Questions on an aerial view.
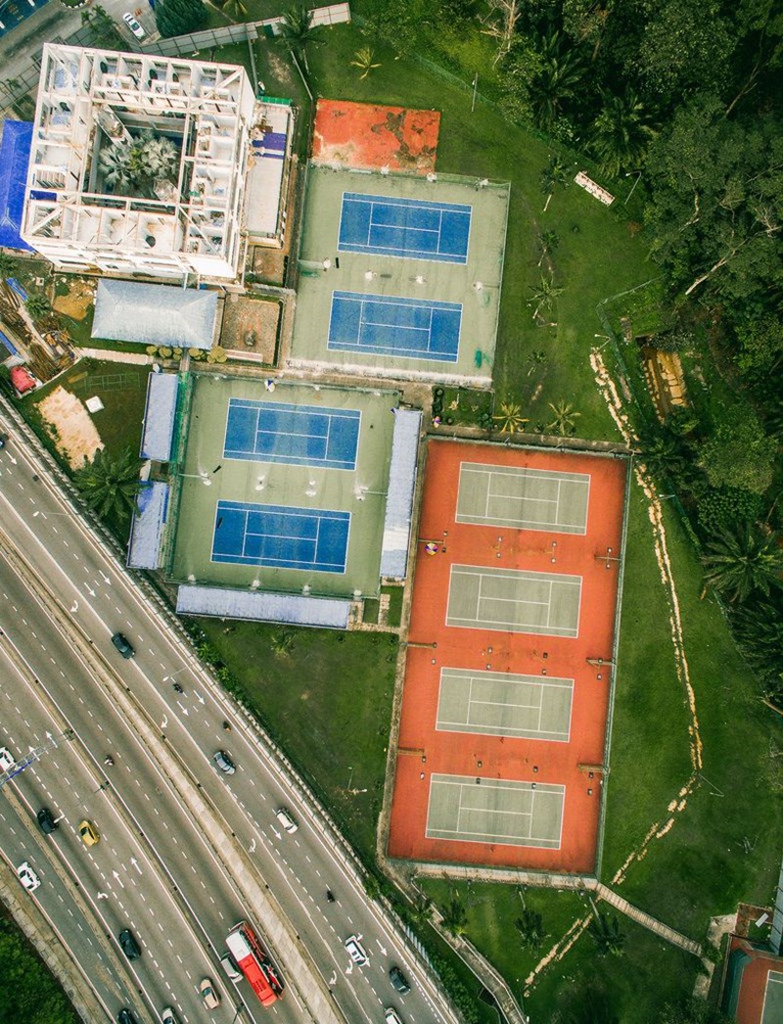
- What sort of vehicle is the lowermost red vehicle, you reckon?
bus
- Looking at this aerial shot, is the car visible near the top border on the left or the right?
left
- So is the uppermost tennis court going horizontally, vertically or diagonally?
horizontally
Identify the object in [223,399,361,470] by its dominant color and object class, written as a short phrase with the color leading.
blue tennis court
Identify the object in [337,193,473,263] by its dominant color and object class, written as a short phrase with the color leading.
blue tennis court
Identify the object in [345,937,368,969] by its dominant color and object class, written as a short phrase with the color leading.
white car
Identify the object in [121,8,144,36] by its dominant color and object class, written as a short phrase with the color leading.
white car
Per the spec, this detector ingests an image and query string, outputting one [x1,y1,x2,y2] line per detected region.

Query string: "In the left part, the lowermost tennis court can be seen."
[212,500,351,574]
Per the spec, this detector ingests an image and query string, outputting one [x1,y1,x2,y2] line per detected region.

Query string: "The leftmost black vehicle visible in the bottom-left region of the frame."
[35,807,55,837]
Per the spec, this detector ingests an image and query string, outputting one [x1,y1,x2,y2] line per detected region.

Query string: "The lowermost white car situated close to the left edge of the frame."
[16,863,37,892]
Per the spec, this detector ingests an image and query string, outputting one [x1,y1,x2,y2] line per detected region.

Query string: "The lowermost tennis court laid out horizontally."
[425,773,566,851]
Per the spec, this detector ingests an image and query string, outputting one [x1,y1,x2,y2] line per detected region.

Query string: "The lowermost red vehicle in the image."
[227,934,280,1009]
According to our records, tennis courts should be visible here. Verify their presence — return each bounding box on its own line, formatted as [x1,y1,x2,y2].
[212,500,351,574]
[436,667,574,743]
[425,773,566,851]
[326,291,463,362]
[455,462,591,535]
[337,193,473,263]
[761,971,783,1024]
[445,564,583,638]
[223,399,361,470]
